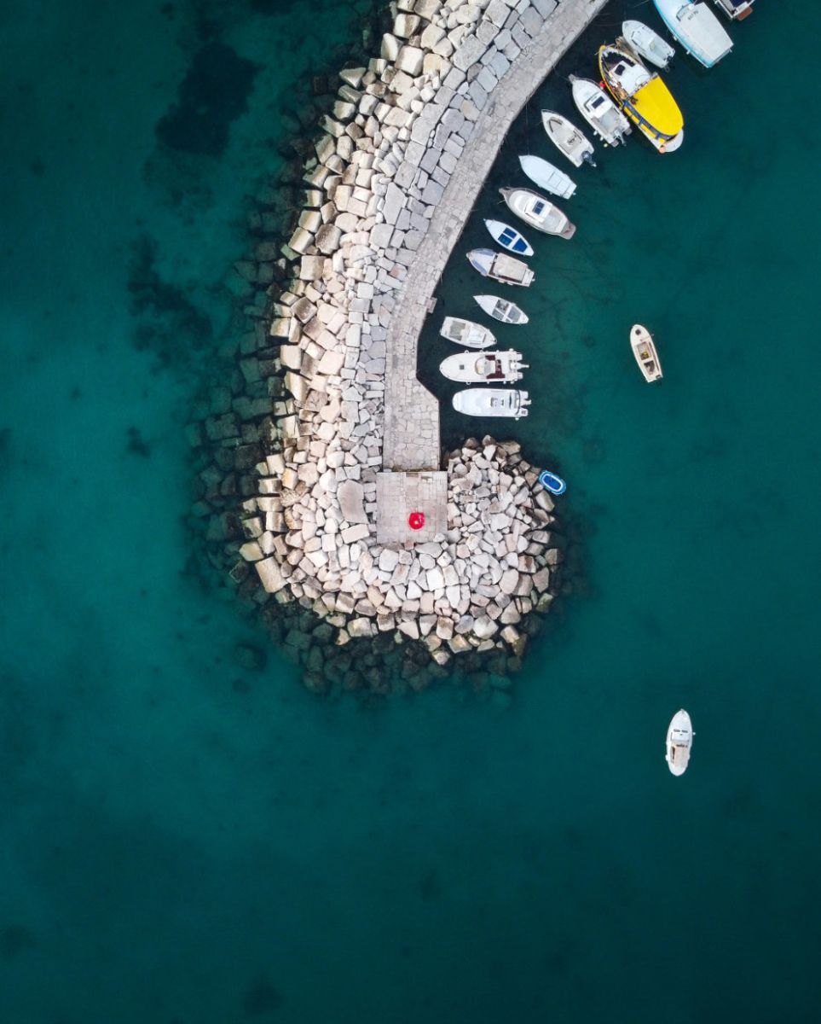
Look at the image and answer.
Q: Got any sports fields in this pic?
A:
No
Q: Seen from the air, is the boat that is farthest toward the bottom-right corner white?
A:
Yes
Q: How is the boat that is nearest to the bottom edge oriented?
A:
from top to bottom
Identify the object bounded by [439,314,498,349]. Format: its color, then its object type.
white boat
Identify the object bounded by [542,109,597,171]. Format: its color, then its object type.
white boat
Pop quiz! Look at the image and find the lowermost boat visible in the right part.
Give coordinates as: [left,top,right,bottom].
[661,710,697,777]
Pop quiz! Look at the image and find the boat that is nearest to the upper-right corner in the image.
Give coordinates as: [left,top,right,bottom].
[715,0,754,20]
